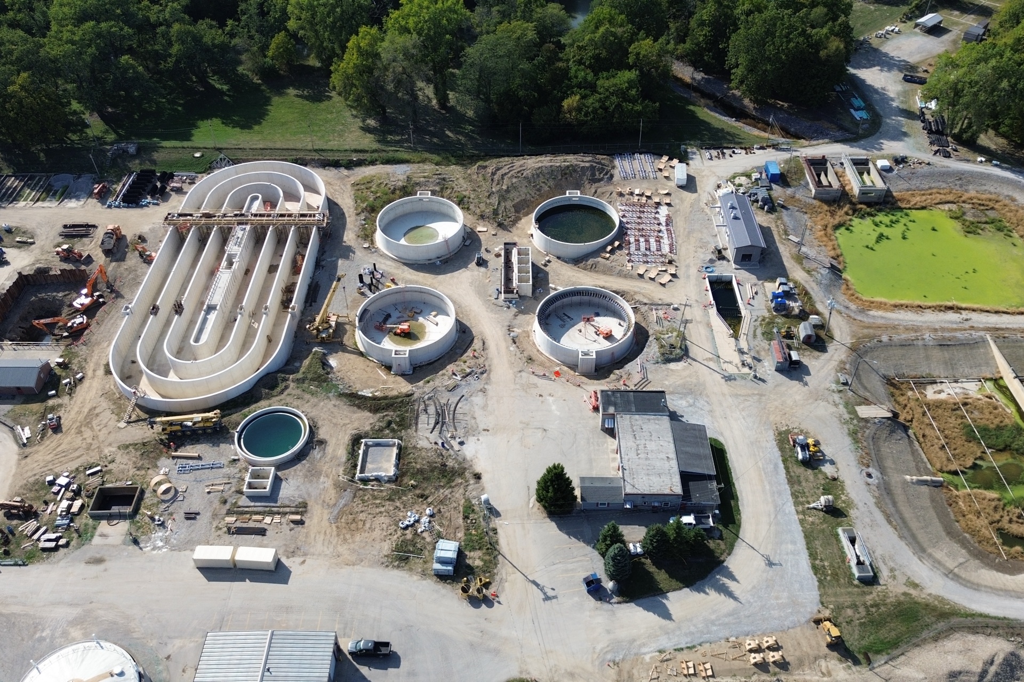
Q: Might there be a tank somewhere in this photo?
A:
Yes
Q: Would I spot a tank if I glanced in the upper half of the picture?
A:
Yes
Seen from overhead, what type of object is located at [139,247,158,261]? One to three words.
work vehicle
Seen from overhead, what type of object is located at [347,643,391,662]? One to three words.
vehicle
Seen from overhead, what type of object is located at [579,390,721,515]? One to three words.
building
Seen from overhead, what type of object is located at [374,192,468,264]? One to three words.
storage tank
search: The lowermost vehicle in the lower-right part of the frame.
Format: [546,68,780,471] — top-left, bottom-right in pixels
[808,613,848,651]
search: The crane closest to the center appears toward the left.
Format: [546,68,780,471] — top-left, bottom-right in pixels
[310,269,349,342]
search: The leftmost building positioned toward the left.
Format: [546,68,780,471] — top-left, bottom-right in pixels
[0,353,56,402]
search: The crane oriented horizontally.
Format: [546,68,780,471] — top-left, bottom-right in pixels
[136,411,222,439]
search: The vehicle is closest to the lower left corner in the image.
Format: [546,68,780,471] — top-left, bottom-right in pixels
[0,496,51,521]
